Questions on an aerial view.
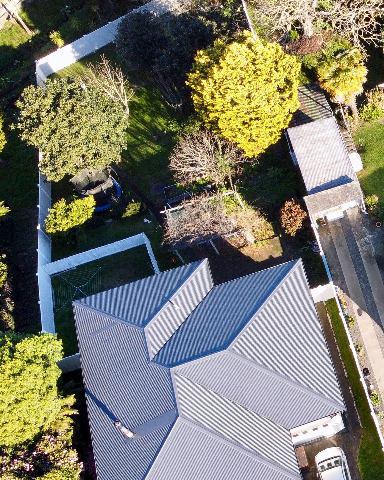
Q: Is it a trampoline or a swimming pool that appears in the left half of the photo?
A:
trampoline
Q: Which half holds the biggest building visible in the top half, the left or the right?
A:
right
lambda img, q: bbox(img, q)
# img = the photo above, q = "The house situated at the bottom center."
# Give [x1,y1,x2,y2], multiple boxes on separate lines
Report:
[66,256,349,480]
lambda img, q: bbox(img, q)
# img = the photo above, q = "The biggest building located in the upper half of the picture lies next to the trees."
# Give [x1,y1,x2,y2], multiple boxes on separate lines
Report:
[287,117,369,236]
